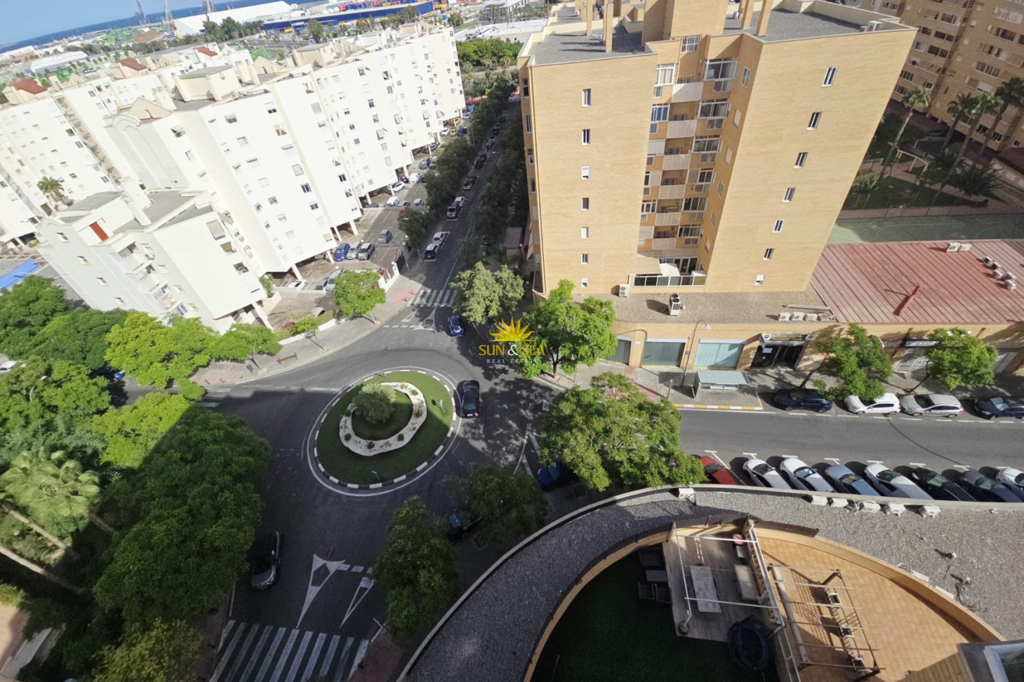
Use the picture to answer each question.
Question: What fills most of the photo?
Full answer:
The scene is dominated by buildings.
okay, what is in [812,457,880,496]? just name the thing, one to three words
car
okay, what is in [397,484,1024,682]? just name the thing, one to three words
building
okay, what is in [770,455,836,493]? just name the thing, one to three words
car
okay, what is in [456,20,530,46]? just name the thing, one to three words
building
